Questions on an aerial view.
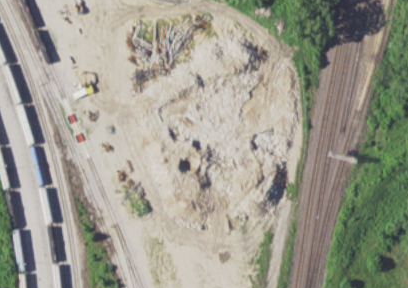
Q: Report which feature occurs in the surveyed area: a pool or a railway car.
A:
railway car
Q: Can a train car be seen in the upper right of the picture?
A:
No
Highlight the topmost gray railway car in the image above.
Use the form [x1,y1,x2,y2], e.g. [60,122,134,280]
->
[19,0,38,28]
